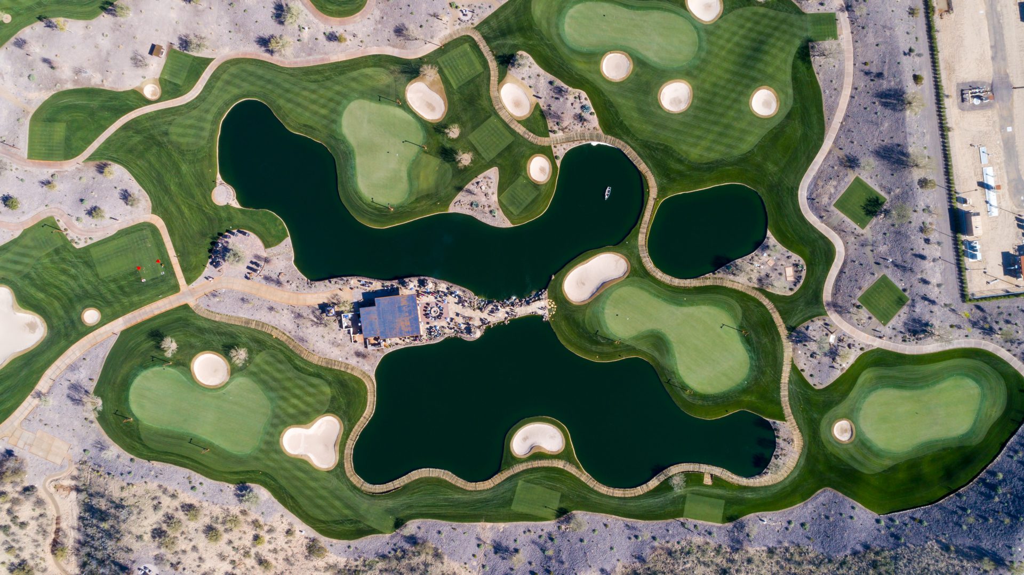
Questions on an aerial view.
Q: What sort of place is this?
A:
golf course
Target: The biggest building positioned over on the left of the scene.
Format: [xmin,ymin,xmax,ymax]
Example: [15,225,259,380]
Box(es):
[360,294,422,339]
